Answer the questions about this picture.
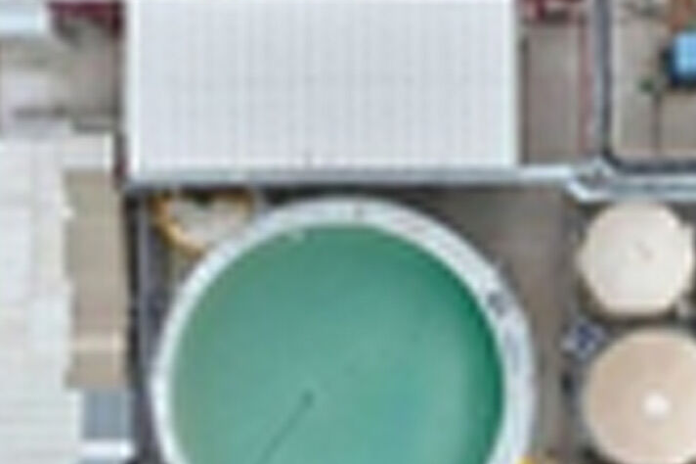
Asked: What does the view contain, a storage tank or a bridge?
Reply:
storage tank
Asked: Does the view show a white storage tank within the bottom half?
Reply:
Yes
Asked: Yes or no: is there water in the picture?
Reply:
Yes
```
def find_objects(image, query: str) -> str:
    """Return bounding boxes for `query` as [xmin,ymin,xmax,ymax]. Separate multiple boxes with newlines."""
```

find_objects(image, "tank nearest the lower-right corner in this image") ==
[578,324,696,464]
